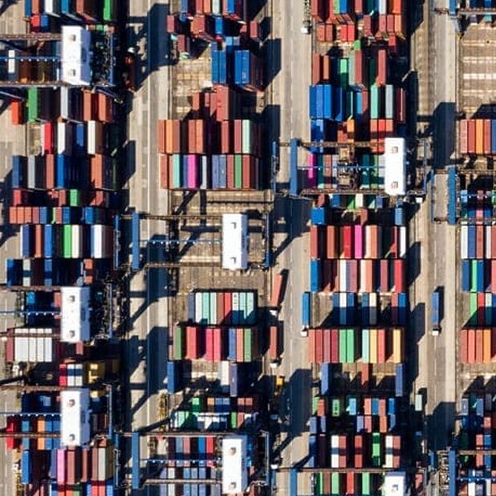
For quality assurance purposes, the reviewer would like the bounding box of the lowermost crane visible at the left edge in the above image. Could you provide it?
[0,371,129,448]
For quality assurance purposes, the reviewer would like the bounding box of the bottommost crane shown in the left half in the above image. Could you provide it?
[115,412,272,492]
